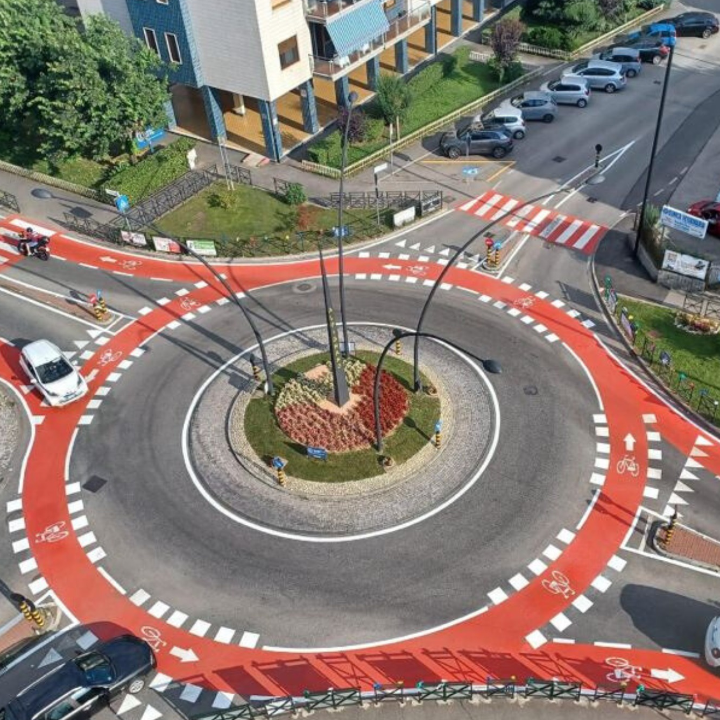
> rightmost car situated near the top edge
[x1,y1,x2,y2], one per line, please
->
[660,8,720,38]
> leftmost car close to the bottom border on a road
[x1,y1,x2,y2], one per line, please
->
[0,633,162,720]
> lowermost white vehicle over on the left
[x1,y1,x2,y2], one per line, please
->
[14,324,85,397]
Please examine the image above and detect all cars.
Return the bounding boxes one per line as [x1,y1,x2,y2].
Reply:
[534,72,594,107]
[687,203,720,235]
[0,633,162,720]
[461,103,534,139]
[620,17,683,49]
[494,87,563,123]
[549,56,627,93]
[586,42,643,76]
[611,31,670,64]
[660,8,720,38]
[437,117,516,158]
[14,324,85,397]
